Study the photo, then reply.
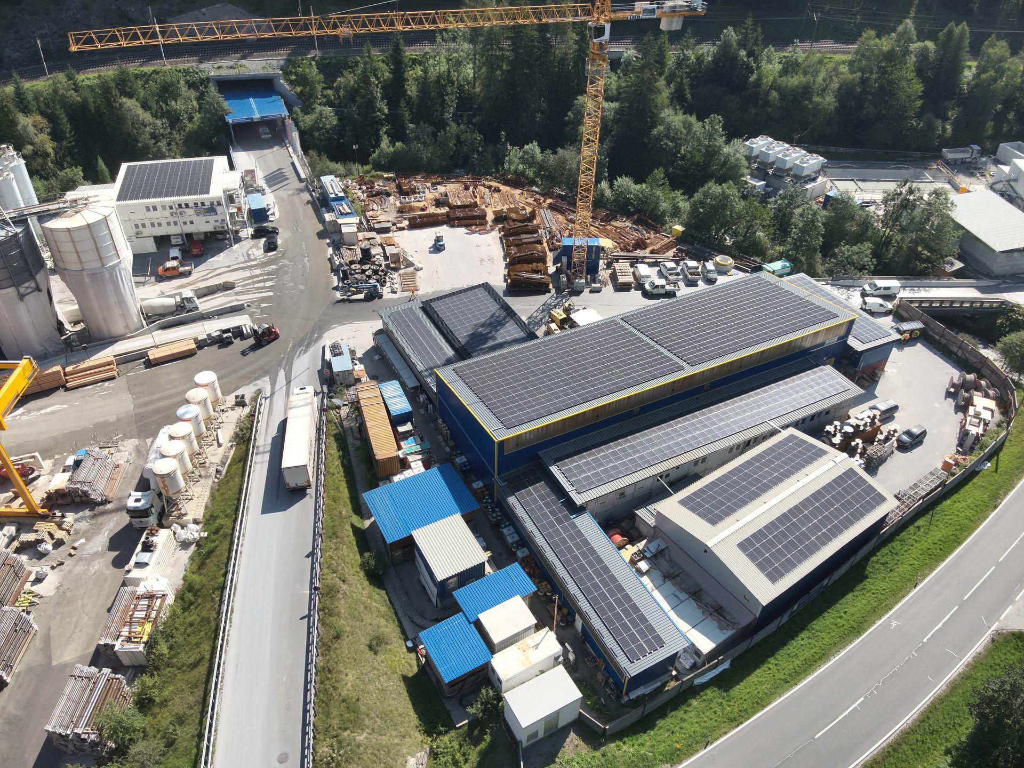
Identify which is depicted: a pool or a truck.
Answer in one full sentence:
It is a truck that can be seen here.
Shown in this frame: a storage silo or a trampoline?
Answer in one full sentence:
Visible in the photo is a storage silo.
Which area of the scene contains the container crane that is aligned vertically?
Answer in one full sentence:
You can find the container crane that is aligned vertically in the left area of the picture.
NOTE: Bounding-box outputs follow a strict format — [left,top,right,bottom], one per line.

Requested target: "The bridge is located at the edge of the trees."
[868,273,1024,311]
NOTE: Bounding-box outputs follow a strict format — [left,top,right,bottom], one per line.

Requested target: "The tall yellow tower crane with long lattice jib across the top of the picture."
[63,0,721,283]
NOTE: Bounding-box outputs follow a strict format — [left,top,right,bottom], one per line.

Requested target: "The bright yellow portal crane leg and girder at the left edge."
[0,353,66,520]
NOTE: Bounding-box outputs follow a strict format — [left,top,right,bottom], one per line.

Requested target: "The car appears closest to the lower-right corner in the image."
[894,419,937,449]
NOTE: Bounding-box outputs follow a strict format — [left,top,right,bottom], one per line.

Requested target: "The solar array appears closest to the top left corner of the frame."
[118,158,212,200]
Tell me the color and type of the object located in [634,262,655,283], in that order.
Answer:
white vehicle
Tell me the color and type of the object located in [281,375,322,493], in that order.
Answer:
white truck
